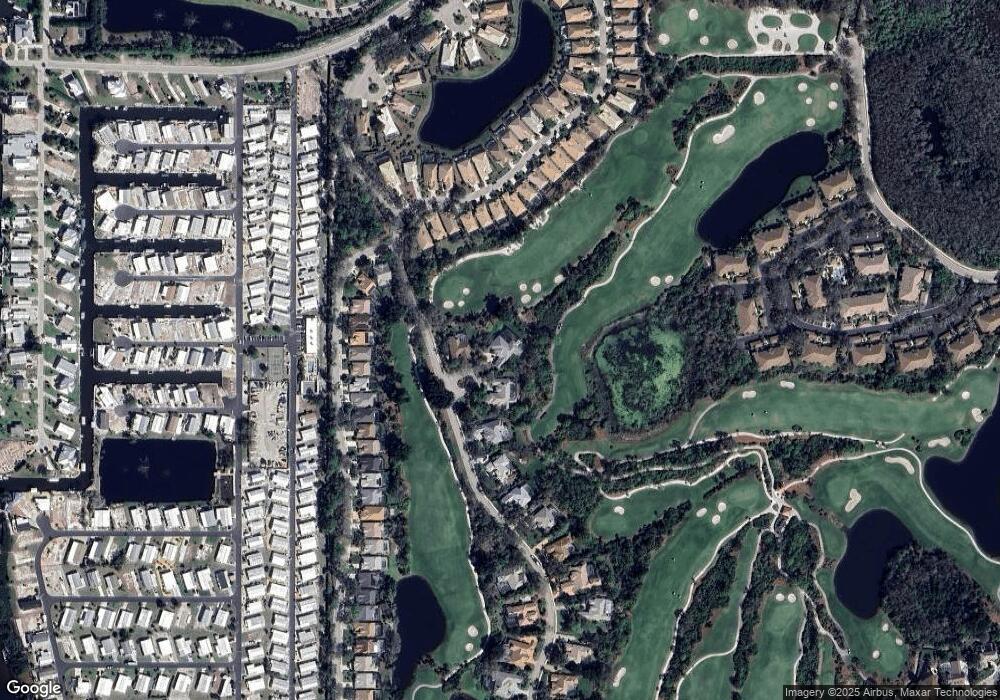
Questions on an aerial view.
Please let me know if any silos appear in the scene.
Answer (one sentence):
No, I can't see a single silo in this photo.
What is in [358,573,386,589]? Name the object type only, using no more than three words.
house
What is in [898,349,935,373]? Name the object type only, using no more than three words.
building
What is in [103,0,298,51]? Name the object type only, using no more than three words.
pond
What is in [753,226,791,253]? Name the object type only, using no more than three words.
building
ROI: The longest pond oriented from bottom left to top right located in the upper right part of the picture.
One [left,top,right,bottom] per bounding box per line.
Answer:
[697,131,828,249]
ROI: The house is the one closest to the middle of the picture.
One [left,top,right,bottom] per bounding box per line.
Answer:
[485,334,521,370]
